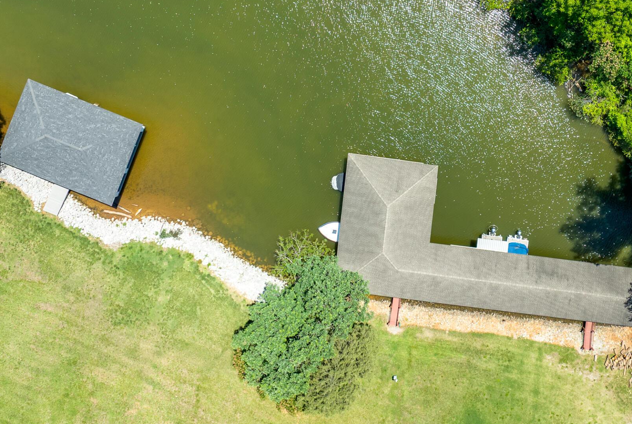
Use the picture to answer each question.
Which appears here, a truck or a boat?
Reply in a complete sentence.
There is a boat in the scene.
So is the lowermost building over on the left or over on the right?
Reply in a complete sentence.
The lowermost building sits on the right side.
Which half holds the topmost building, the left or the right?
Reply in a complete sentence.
The topmost building sits on the left side.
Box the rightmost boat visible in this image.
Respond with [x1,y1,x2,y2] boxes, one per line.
[507,231,528,255]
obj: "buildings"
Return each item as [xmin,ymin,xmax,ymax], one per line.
[0,79,150,207]
[336,153,632,327]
